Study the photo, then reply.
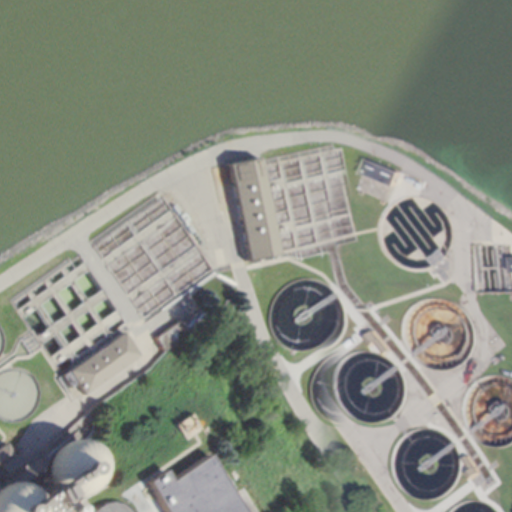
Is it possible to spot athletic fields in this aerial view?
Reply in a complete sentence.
No, the picture doesn't show any athletic field.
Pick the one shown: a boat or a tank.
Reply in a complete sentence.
Of the two, only a tank appears.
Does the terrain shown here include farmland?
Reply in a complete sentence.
No, the picture contains no farmland.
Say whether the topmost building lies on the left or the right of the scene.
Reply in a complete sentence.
The topmost building appears in the right half of the scene.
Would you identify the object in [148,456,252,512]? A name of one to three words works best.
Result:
building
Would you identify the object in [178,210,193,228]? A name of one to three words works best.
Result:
vehicle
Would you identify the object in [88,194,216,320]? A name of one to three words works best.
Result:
storage tank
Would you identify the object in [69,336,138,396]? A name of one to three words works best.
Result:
house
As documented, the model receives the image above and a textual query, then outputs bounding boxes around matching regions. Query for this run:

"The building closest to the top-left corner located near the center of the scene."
[228,160,274,261]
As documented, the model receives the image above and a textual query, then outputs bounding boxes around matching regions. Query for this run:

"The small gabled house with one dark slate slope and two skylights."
[358,160,394,200]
